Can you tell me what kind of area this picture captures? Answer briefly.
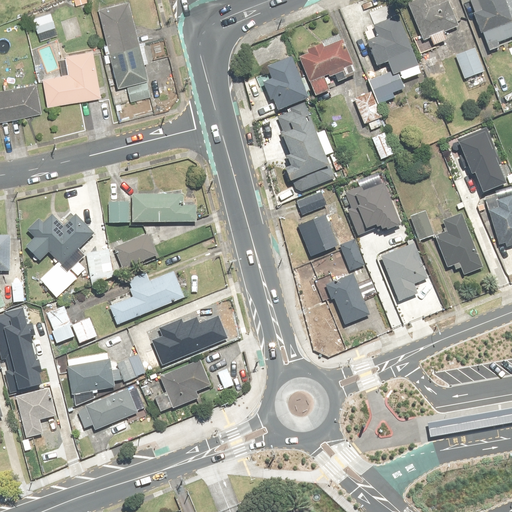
residential area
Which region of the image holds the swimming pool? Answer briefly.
top left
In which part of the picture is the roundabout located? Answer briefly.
bottom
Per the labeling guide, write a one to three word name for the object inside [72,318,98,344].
building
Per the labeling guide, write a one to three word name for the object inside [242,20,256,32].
vehicle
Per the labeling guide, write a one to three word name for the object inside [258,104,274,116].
vehicle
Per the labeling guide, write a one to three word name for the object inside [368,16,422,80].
house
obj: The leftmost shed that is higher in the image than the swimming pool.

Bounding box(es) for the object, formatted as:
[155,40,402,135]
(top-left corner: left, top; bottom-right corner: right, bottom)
[33,13,58,41]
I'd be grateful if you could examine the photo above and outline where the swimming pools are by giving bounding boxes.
[38,44,60,74]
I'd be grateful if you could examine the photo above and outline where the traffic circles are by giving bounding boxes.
[274,377,329,432]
